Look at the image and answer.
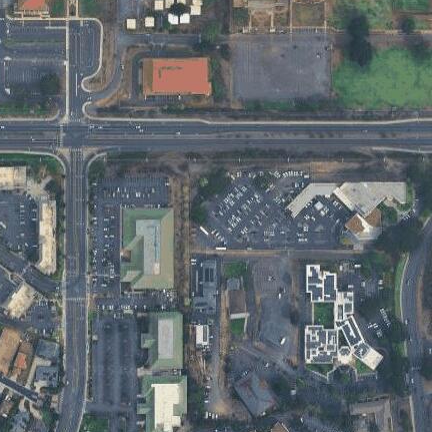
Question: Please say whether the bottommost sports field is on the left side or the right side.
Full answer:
The bottommost sports field is on the right side of the image.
